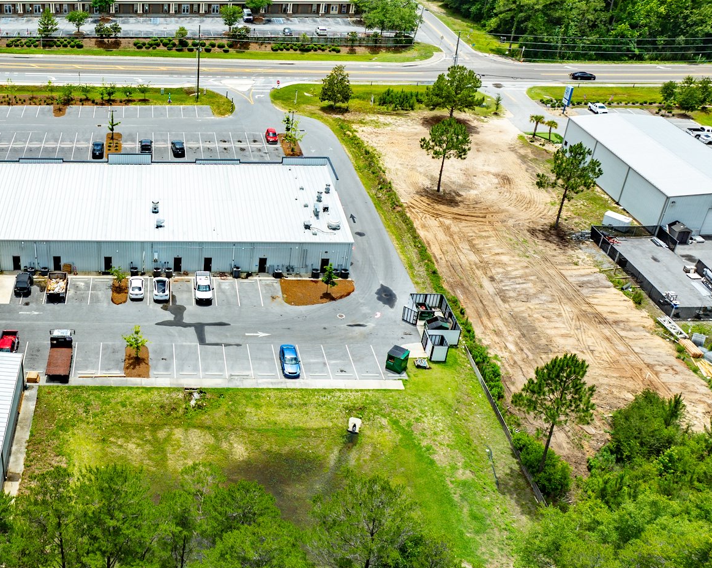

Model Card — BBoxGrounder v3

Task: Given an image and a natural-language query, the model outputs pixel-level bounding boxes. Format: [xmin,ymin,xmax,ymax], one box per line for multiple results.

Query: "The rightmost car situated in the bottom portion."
[278,344,303,376]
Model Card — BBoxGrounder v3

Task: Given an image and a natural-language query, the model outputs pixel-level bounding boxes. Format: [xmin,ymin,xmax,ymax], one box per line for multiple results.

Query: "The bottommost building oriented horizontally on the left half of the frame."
[0,155,357,274]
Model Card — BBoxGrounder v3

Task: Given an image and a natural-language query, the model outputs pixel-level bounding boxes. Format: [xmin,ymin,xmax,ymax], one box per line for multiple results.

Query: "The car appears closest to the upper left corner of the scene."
[90,142,105,161]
